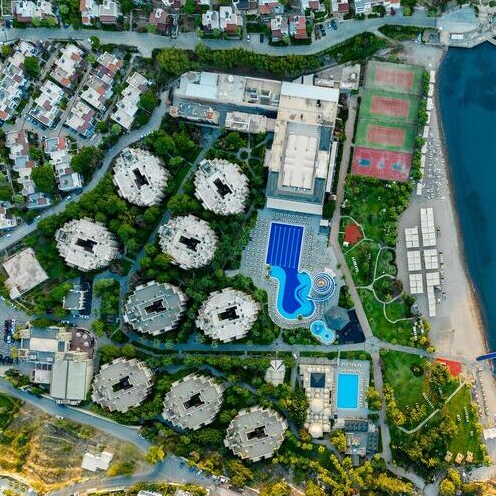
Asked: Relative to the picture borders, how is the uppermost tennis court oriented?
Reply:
horizontally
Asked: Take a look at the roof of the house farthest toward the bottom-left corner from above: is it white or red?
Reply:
white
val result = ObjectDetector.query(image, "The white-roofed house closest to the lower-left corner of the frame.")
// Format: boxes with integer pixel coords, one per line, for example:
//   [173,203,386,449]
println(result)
[82,451,115,471]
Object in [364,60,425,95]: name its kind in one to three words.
tennis court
